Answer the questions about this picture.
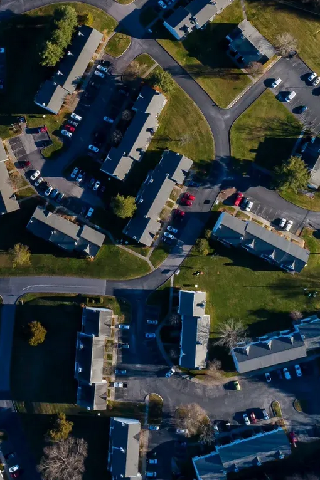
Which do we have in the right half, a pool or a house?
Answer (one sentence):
Looking in the right half, you will find a house.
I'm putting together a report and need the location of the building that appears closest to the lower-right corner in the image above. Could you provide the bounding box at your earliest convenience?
[192,425,289,480]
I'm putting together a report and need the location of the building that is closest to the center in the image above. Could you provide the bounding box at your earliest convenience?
[125,149,194,246]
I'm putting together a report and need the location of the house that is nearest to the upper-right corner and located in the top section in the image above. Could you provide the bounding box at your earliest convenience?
[227,19,278,68]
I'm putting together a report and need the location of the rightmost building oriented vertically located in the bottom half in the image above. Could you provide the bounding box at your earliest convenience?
[173,287,211,369]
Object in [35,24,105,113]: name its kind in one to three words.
building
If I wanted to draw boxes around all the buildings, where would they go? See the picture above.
[111,416,144,480]
[173,287,211,369]
[101,88,165,180]
[35,24,105,113]
[76,306,114,411]
[162,0,228,40]
[227,19,278,68]
[232,316,320,374]
[125,149,194,246]
[192,425,289,480]
[299,136,320,187]
[0,136,20,215]
[212,209,311,272]
[27,204,106,256]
